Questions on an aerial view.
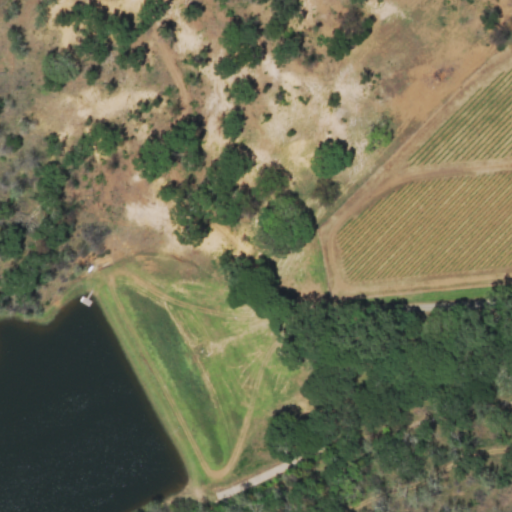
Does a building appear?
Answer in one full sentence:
No, this view has no building in it.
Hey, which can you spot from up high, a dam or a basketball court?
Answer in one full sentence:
There is a dam in the scene.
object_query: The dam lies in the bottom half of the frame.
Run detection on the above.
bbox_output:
[98,280,214,474]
